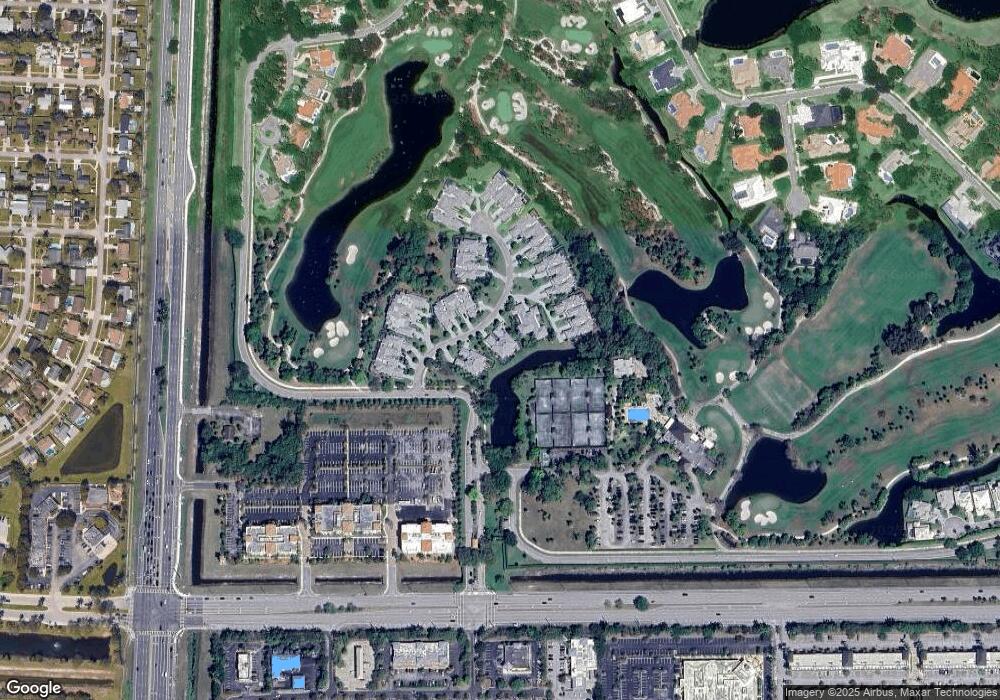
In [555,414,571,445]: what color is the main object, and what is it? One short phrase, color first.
gray tennis court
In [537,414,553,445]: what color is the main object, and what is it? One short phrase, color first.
gray tennis court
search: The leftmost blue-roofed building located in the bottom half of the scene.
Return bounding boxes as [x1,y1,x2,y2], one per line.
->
[271,655,300,679]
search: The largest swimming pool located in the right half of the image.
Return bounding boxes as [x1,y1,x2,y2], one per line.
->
[628,408,649,422]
